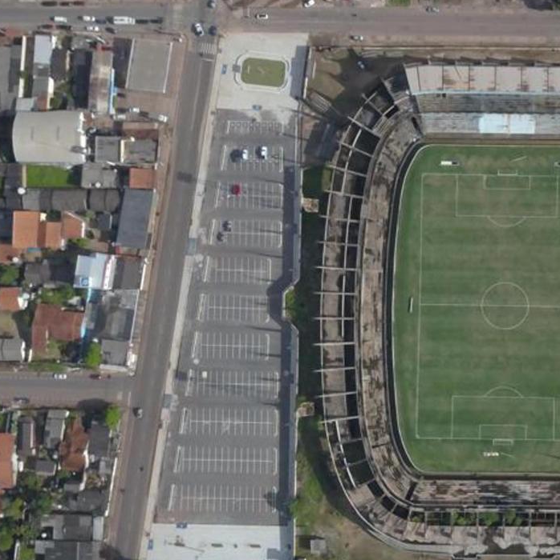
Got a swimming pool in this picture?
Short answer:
No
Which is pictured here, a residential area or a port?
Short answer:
residential area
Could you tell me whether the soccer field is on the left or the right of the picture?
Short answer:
right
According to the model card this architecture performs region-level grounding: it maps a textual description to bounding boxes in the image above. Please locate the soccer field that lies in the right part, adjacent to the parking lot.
[391,141,560,478]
